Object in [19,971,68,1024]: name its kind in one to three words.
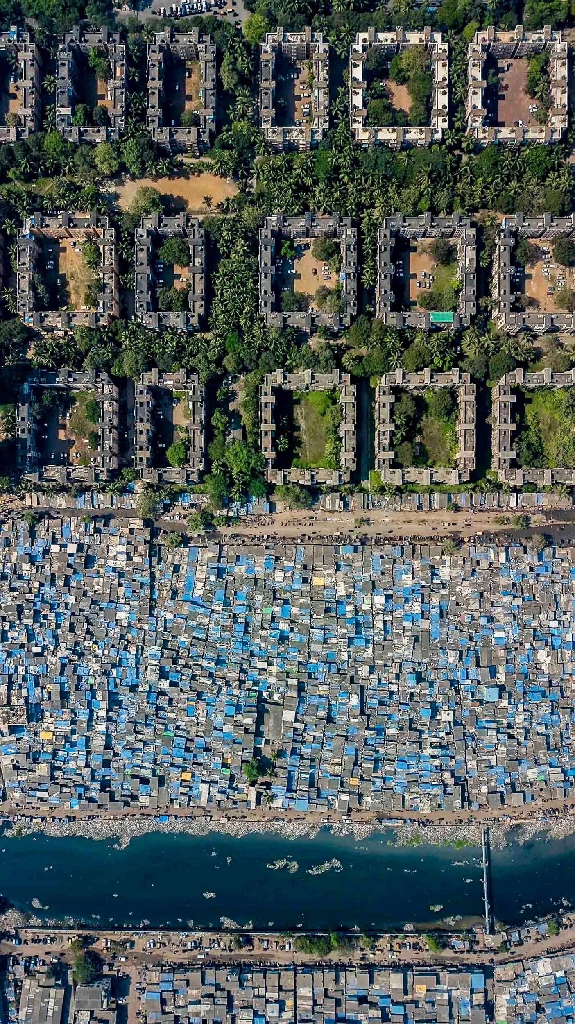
shed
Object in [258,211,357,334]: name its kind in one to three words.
building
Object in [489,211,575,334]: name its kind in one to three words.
building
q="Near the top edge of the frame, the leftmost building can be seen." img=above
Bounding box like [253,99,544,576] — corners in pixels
[0,25,44,156]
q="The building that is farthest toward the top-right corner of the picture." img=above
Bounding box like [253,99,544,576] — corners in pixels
[462,25,566,154]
